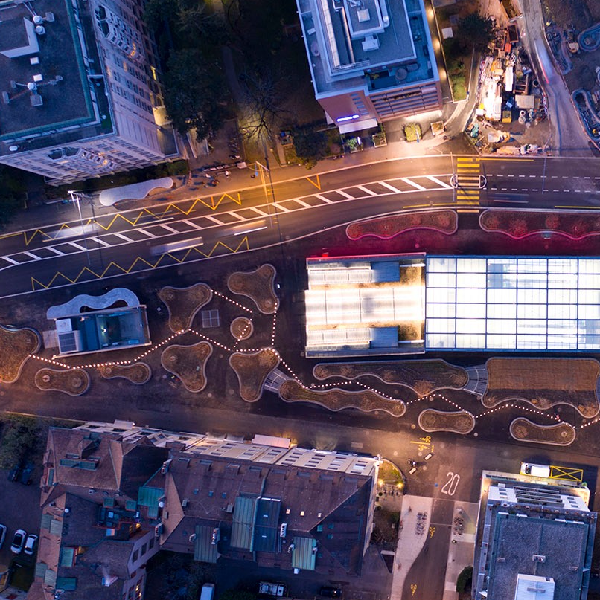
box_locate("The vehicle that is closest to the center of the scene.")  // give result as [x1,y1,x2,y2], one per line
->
[235,219,264,236]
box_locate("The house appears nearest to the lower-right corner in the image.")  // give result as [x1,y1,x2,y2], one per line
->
[472,466,598,600]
